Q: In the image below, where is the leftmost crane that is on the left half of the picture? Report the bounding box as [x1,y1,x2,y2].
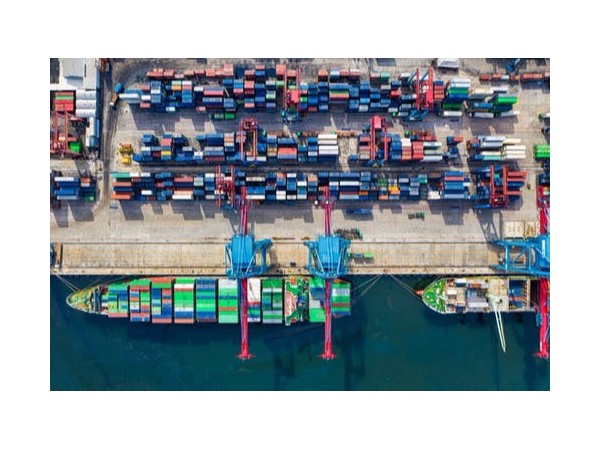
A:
[53,111,90,161]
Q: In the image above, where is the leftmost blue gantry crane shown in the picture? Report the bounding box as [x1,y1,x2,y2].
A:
[228,186,276,362]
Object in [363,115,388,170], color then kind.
red container crane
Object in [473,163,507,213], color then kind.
red container crane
